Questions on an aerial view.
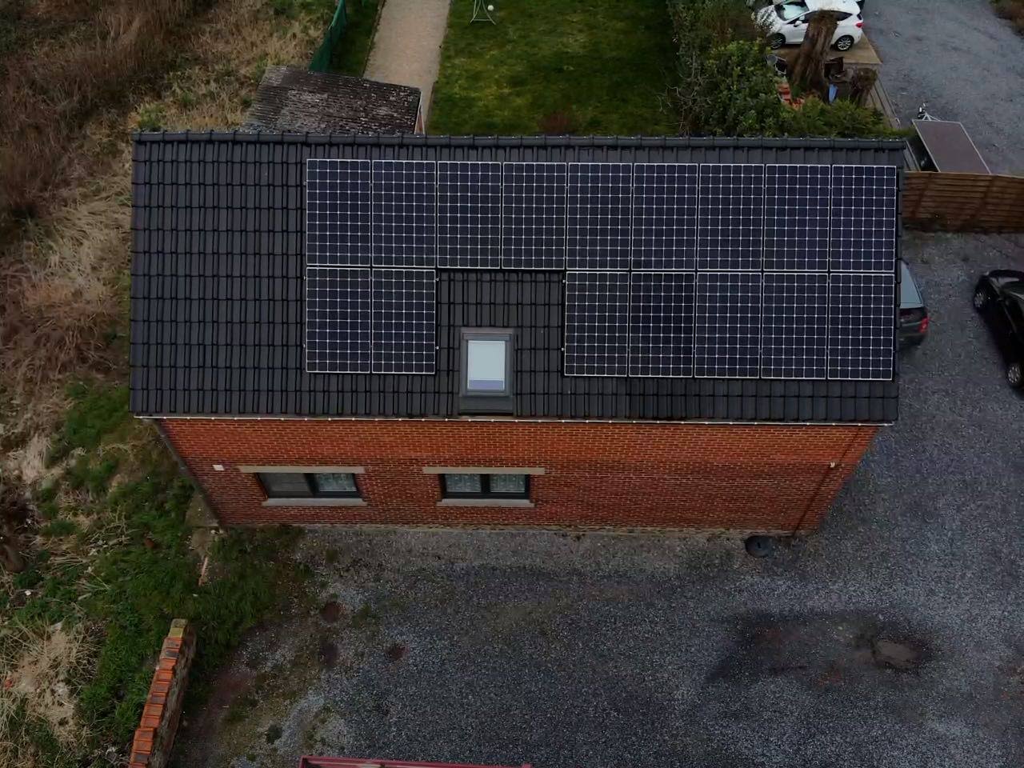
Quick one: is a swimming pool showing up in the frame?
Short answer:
No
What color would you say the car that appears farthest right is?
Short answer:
black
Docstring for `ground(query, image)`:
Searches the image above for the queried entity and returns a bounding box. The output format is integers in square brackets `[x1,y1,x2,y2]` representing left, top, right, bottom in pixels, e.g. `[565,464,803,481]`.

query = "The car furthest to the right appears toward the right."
[975,274,1024,390]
